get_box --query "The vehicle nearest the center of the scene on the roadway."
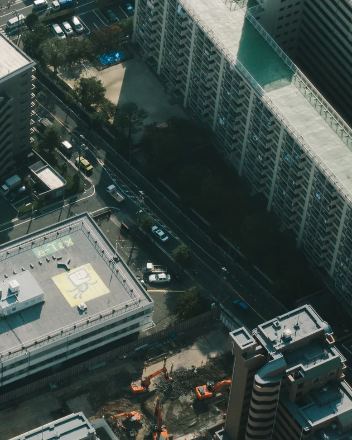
[151,223,170,241]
